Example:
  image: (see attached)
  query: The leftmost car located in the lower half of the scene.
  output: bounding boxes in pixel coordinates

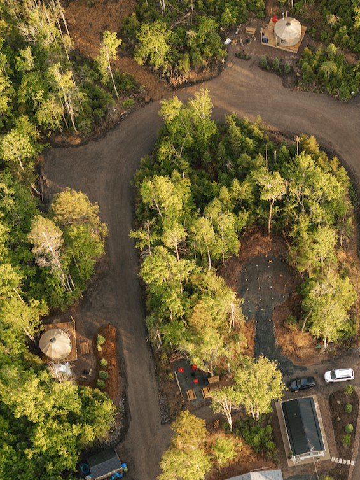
[289,377,318,394]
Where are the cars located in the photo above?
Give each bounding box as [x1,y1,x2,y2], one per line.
[289,377,318,394]
[324,368,355,383]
